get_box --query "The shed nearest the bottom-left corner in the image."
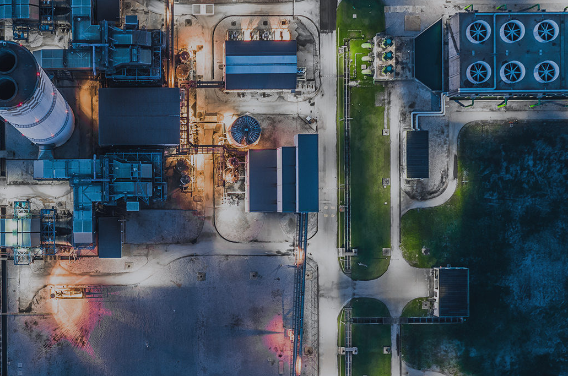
[98,218,125,260]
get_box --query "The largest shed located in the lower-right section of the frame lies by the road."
[423,267,471,317]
